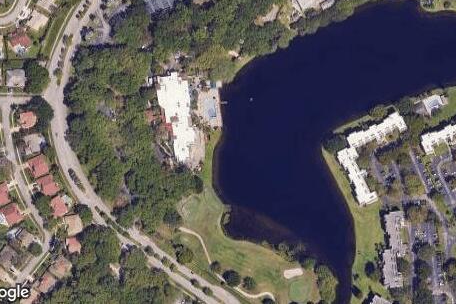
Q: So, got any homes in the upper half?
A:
Yes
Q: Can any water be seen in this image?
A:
Yes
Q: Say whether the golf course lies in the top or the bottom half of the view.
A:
bottom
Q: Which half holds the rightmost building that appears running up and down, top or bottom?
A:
bottom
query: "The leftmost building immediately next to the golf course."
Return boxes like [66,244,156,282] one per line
[152,71,194,164]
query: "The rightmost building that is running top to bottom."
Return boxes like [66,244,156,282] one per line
[381,210,404,288]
